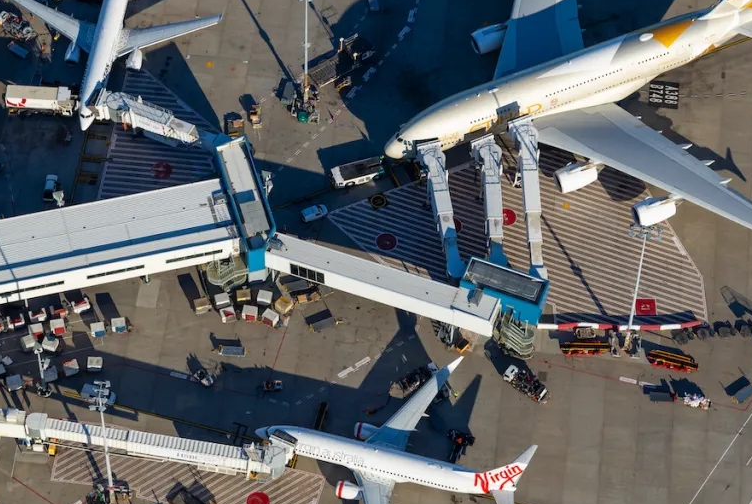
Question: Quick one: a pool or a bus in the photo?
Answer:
bus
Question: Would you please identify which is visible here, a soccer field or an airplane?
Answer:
airplane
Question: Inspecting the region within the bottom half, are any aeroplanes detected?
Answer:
Yes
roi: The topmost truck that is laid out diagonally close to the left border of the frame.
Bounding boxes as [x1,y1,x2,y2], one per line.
[0,11,40,44]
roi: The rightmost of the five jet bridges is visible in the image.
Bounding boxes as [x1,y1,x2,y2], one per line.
[502,114,549,279]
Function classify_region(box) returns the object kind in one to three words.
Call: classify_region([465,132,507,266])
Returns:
jet bridge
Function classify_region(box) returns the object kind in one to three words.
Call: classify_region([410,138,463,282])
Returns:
jet bridge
